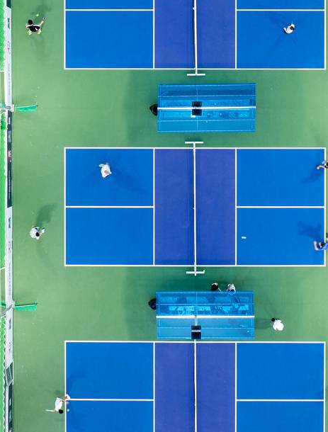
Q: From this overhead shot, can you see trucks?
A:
No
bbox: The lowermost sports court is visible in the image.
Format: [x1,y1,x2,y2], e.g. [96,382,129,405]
[65,342,326,432]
